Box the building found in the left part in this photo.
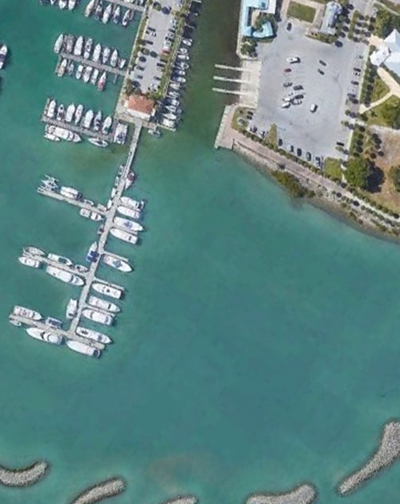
[128,95,155,113]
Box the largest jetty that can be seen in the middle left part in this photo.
[9,125,141,350]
